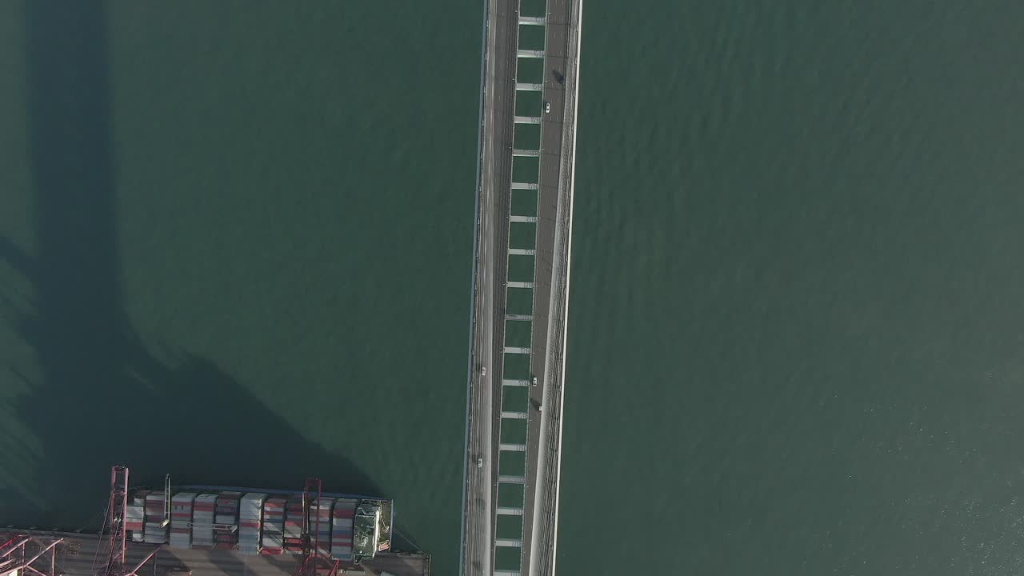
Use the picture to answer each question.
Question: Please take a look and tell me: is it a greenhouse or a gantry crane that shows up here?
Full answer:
There is a gantry crane in the scene.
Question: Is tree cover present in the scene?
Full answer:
No, the scene doesn't show any tree cover.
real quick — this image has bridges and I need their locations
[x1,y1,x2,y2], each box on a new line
[460,0,582,576]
